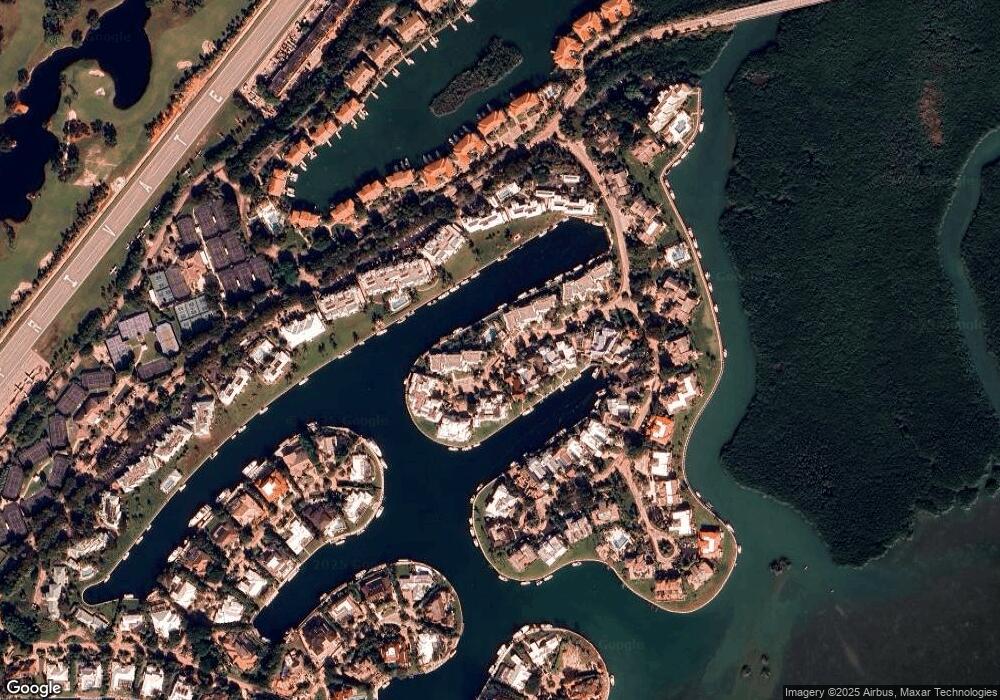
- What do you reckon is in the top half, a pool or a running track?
pool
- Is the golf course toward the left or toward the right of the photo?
left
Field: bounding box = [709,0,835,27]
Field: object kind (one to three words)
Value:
bridge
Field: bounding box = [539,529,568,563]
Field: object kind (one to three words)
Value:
house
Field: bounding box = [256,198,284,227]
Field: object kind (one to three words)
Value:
swimming pool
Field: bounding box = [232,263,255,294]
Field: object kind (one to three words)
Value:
tennis court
